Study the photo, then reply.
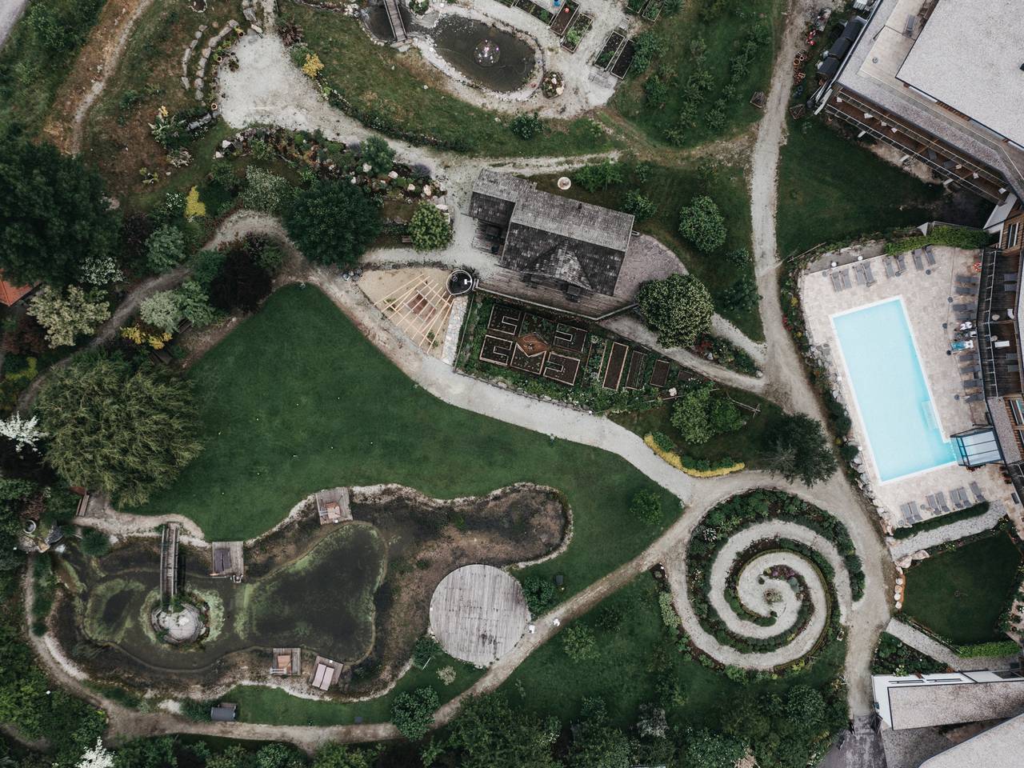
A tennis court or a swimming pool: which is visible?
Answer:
swimming pool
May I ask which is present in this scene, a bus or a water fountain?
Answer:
water fountain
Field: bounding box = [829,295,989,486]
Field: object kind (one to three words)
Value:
swimming pool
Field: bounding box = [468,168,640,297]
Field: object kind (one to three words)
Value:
house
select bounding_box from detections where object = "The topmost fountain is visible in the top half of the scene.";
[473,40,500,67]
